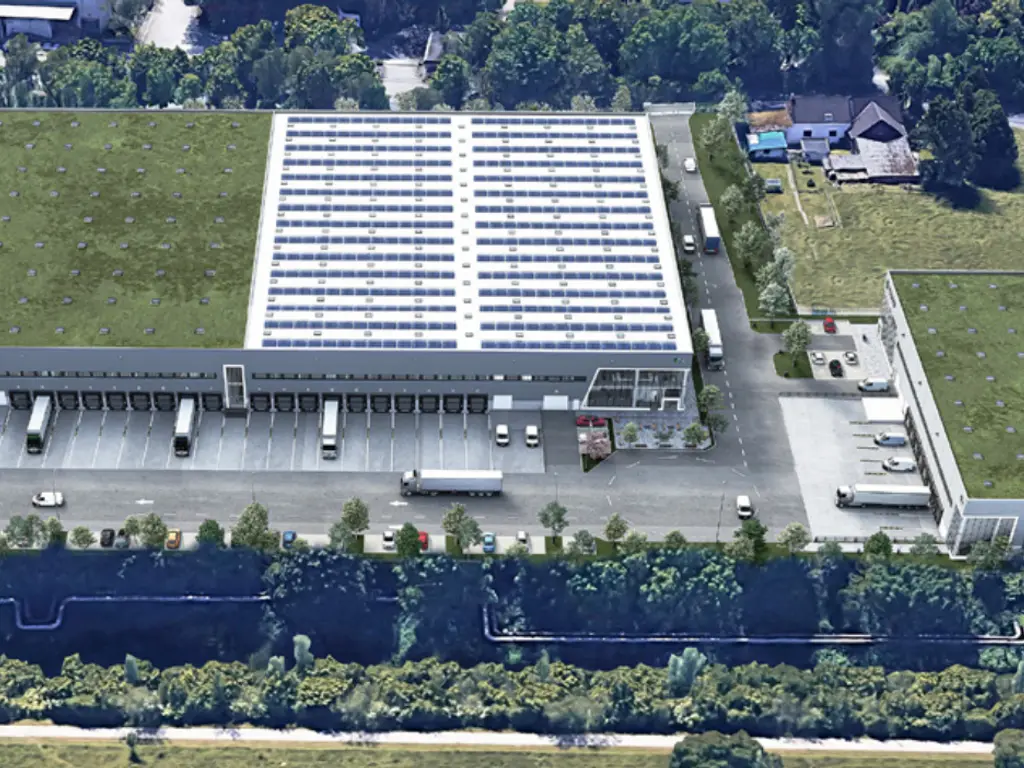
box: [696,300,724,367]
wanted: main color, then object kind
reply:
white truck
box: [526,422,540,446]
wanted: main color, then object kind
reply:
white vehicle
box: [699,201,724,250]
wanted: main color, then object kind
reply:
white truck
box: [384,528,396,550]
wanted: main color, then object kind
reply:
white vehicle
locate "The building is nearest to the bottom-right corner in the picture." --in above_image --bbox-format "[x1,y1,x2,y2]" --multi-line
[878,270,1024,555]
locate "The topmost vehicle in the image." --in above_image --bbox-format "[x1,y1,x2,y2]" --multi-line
[684,157,696,173]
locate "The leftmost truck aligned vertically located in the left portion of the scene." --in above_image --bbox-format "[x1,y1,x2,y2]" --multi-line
[23,398,50,454]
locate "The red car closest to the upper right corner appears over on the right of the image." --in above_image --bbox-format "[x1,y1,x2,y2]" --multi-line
[824,315,837,334]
